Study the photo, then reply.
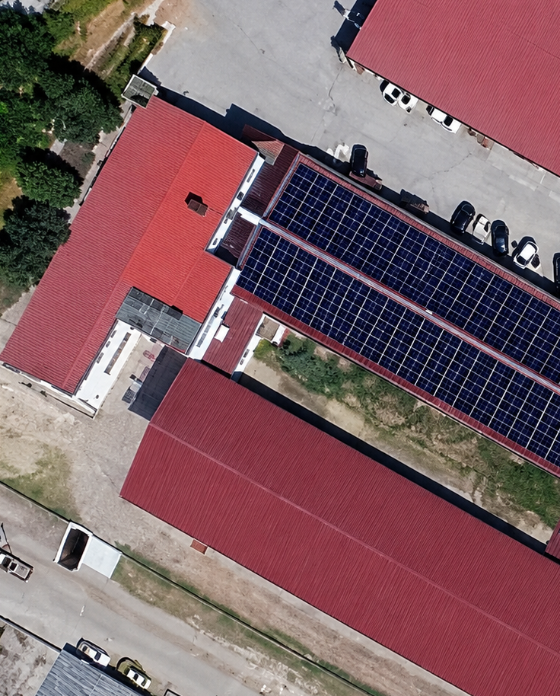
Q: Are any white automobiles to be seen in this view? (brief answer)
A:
Yes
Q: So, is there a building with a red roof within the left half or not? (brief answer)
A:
Yes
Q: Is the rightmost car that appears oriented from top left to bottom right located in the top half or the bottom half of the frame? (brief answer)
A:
top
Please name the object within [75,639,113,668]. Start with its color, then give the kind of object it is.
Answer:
white car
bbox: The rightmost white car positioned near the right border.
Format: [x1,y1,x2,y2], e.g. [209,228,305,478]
[514,236,538,271]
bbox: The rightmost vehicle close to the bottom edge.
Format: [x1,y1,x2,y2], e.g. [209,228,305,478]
[118,660,154,689]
